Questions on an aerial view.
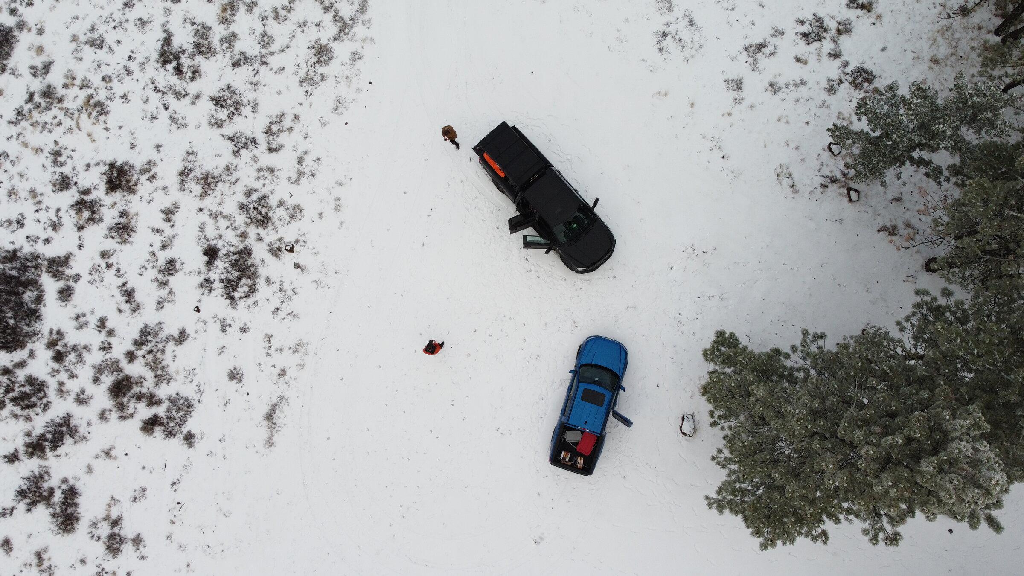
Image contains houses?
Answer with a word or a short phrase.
No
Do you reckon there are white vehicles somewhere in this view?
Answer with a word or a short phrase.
No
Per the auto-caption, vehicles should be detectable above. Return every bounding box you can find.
[474,119,616,273]
[547,334,631,481]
